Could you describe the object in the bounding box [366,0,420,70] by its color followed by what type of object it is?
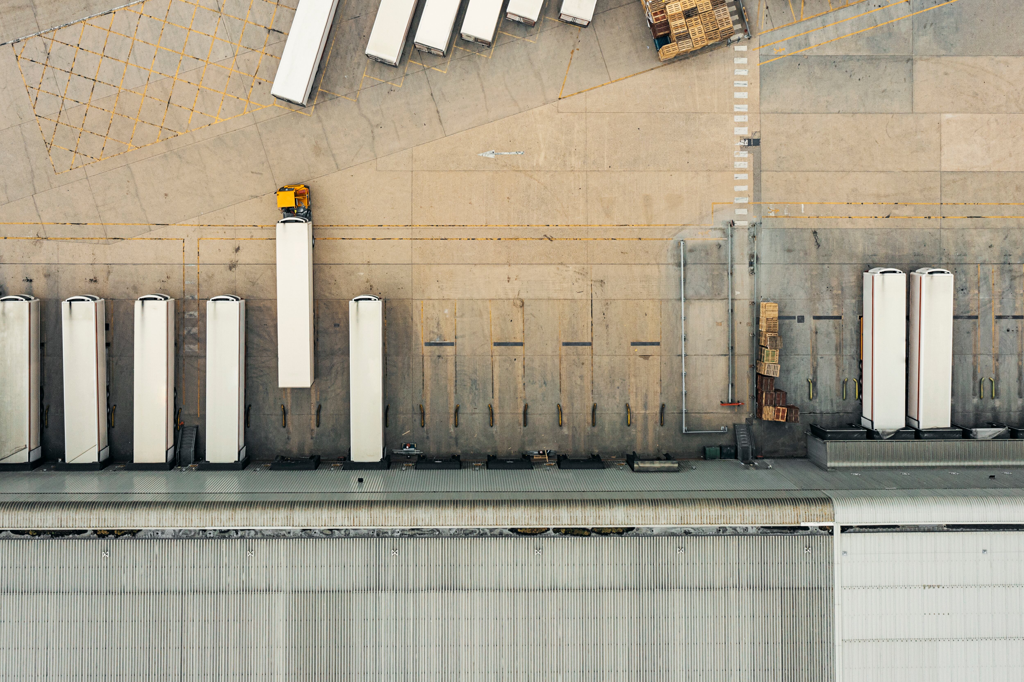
white trailer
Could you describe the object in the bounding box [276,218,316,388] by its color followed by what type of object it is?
white trailer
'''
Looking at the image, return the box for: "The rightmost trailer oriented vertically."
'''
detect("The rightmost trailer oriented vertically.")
[905,269,954,428]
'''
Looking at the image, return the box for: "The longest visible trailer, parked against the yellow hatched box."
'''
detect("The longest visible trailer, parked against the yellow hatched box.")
[271,0,339,109]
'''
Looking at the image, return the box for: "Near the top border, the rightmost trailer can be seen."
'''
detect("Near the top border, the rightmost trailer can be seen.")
[557,0,596,30]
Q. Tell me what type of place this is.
industrial area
